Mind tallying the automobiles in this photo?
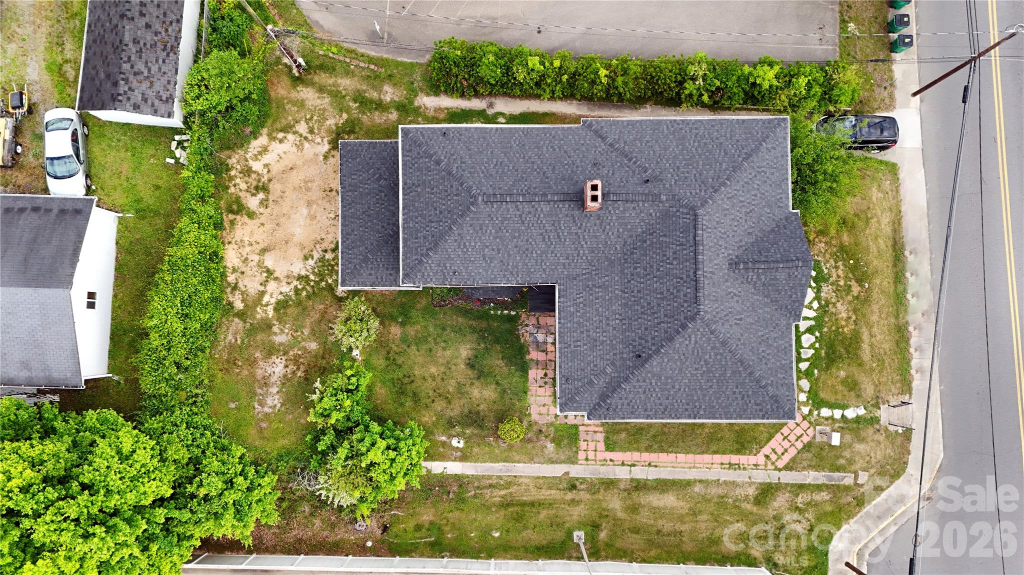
2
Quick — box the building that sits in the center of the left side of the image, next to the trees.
[0,194,131,390]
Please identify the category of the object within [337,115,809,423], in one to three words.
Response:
house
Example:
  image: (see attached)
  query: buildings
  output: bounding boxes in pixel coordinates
[75,0,199,126]
[337,115,809,423]
[0,194,131,390]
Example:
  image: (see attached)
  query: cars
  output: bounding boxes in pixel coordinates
[41,110,93,194]
[811,113,901,158]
